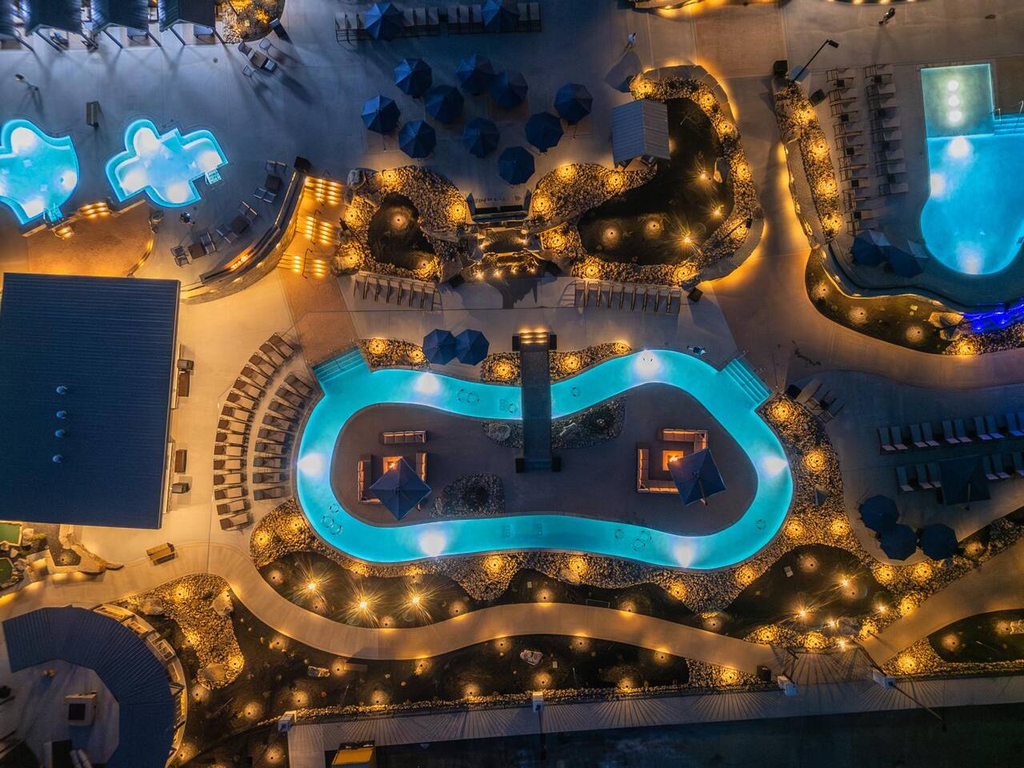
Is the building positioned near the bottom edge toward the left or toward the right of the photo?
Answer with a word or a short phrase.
left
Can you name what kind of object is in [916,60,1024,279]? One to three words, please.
swimming pool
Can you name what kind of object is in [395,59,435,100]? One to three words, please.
umbrella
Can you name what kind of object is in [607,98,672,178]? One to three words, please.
shed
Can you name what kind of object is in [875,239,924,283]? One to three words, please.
umbrella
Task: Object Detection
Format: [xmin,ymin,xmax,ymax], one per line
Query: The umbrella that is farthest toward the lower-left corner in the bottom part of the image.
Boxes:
[369,457,432,521]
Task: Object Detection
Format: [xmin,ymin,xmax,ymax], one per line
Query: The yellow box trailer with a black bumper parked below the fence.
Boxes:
[331,739,377,768]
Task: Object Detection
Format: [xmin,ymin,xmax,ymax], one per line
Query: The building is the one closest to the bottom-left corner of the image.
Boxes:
[2,598,196,768]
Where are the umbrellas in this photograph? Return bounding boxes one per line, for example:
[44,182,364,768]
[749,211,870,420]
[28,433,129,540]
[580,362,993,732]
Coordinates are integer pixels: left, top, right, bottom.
[395,59,435,100]
[669,449,726,514]
[420,328,456,368]
[397,120,440,164]
[551,84,594,128]
[875,239,924,283]
[870,519,915,560]
[488,72,528,113]
[362,2,405,48]
[852,491,896,532]
[939,455,991,516]
[462,120,502,161]
[369,457,432,521]
[455,56,495,97]
[425,87,466,128]
[360,95,403,138]
[523,113,565,155]
[453,326,494,367]
[843,231,885,271]
[496,146,538,189]
[910,520,954,560]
